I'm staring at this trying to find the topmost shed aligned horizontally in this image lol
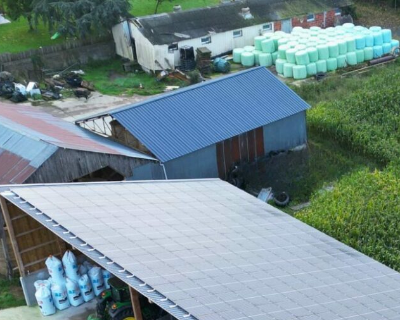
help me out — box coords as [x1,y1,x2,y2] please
[113,0,361,72]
